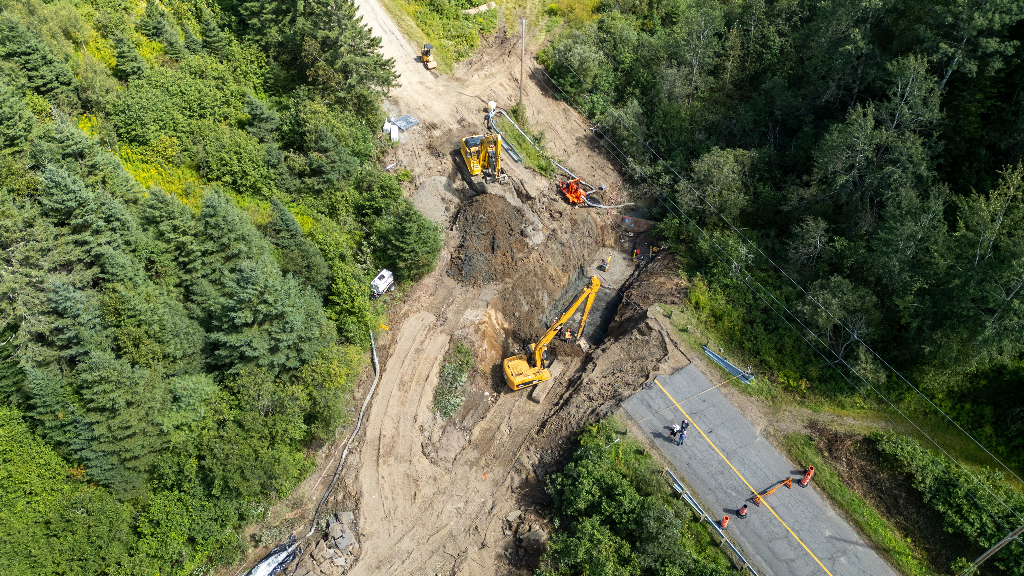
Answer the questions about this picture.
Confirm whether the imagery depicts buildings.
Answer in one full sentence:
No, I find no building anywhere in the image.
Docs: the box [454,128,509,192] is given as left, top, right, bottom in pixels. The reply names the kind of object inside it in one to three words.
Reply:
work vehicle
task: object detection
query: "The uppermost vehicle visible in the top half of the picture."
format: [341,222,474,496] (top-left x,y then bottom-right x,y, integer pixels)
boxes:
[413,39,440,73]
